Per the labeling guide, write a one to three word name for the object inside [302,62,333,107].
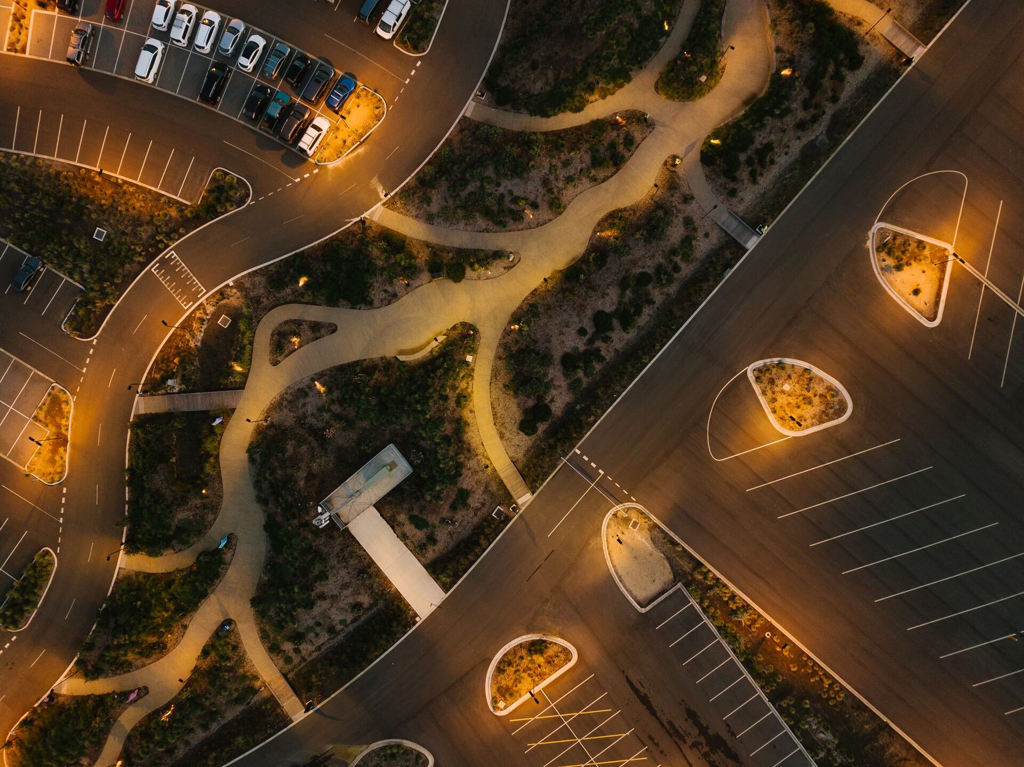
car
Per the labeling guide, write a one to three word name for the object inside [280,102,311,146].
car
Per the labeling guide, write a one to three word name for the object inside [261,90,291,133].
truck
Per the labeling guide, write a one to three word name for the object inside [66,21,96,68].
truck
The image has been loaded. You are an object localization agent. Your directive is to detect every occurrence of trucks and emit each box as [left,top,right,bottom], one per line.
[261,90,291,133]
[66,21,96,68]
